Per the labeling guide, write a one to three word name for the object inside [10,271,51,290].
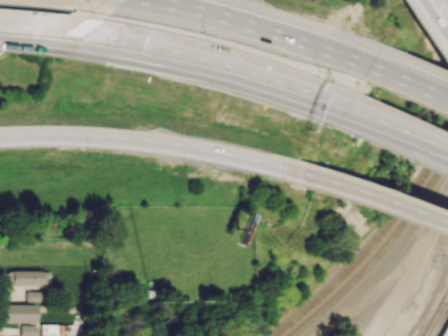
house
